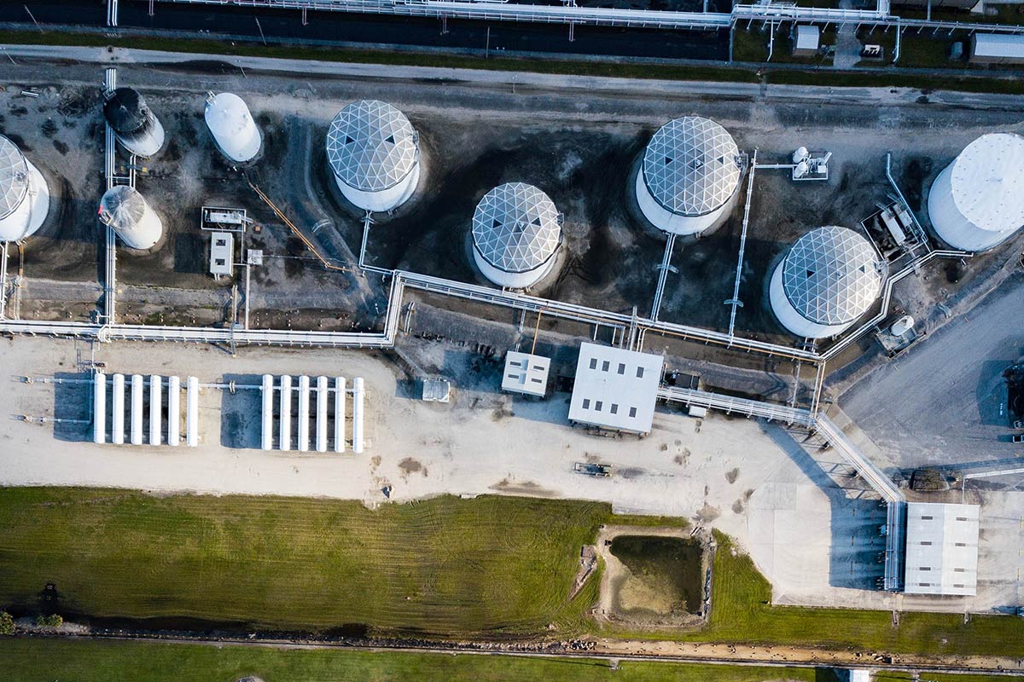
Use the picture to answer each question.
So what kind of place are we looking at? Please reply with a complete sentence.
This image shows an industrial area.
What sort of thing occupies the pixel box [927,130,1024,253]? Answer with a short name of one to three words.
storage tank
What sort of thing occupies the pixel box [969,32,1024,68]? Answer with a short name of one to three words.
shed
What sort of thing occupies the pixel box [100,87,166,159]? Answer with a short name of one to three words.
storage tank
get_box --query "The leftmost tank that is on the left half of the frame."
[0,136,51,241]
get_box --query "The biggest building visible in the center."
[569,342,664,438]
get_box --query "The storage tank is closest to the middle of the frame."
[472,181,567,288]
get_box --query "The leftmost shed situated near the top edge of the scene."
[793,24,820,55]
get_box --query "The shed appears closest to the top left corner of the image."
[210,232,236,281]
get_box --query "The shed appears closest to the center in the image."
[502,351,551,400]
